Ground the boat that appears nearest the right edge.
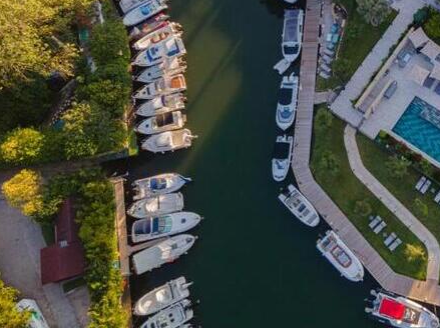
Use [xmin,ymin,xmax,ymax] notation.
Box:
[364,288,440,328]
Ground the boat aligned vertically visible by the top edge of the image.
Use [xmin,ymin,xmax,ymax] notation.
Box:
[279,8,303,65]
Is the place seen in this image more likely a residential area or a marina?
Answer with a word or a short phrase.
marina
